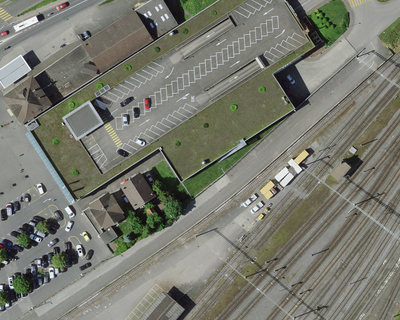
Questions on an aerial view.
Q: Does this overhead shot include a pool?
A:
No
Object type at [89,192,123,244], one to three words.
house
